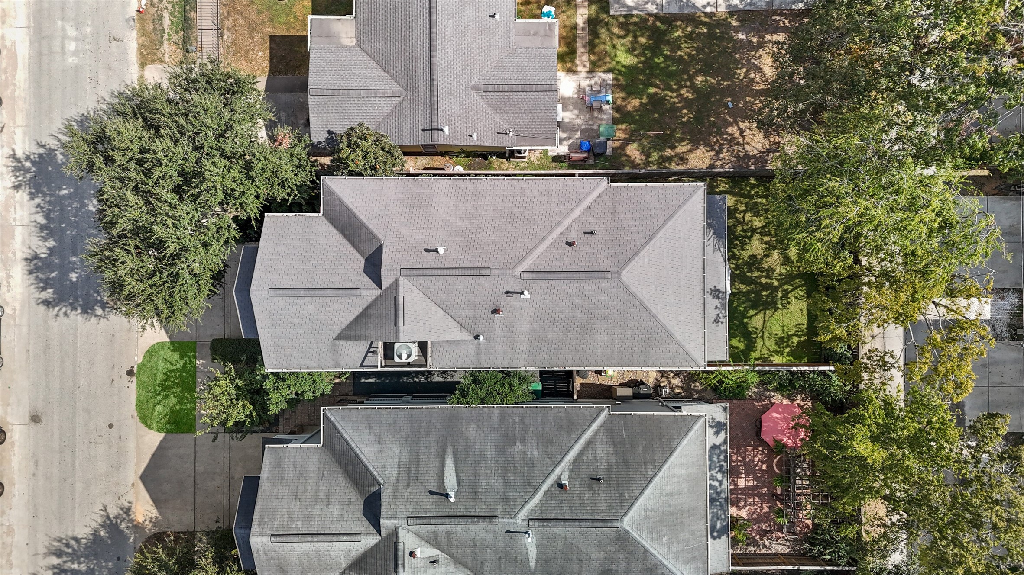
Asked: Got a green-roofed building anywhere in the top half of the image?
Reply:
No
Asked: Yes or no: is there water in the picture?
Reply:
No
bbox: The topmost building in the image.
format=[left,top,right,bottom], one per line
[306,0,562,150]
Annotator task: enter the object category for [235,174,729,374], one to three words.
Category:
house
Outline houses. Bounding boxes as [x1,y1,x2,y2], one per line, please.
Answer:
[235,174,729,374]
[235,395,729,575]
[306,0,562,150]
